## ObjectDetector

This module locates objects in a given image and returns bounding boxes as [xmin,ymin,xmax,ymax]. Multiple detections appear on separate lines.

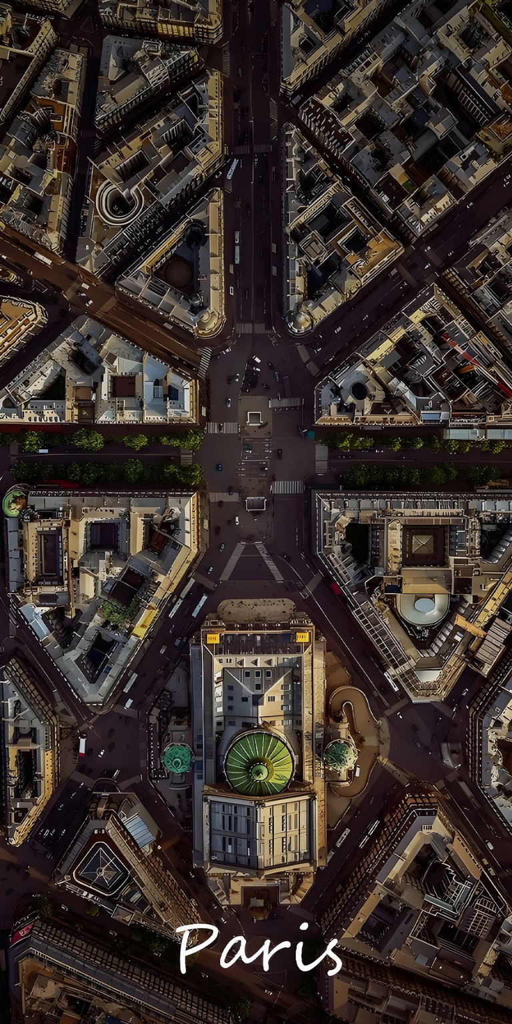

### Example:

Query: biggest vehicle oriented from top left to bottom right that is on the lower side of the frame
[381,674,396,692]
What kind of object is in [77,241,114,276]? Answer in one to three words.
building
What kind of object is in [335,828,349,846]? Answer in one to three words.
vehicle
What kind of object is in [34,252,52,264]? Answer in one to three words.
vehicle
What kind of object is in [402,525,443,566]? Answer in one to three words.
building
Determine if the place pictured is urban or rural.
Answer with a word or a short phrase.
urban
